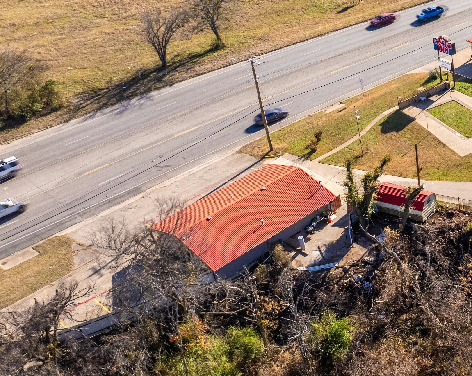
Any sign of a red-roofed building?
Yes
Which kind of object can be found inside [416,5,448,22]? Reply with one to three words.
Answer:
vehicle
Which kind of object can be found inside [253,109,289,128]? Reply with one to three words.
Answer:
car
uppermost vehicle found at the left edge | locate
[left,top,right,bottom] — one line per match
[0,154,23,177]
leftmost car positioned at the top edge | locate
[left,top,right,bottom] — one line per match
[371,13,396,27]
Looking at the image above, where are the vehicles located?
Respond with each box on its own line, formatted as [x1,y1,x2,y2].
[371,13,396,27]
[416,5,448,22]
[253,109,289,128]
[0,199,29,222]
[0,154,23,177]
